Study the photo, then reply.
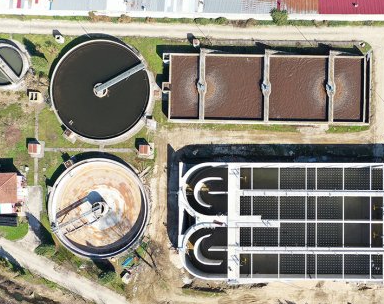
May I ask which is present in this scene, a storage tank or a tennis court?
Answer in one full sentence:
Looking from above, you can make out a storage tank.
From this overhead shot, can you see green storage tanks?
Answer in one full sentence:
No, there isn't any green storage tank down there.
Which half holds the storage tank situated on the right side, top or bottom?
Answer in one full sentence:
Seen from above, the storage tank situated on the right side lies in the bottom half of the view.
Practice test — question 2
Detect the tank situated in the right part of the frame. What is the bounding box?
[180,161,384,284]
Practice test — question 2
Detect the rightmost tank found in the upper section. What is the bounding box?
[48,37,161,149]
